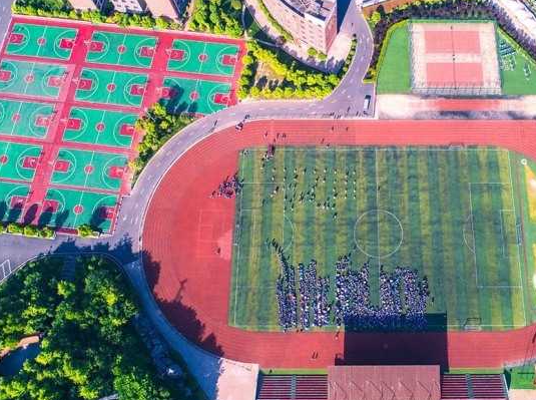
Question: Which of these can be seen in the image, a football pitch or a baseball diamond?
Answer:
football pitch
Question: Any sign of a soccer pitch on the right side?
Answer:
Yes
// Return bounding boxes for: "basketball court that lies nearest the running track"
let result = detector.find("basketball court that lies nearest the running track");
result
[157,76,231,116]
